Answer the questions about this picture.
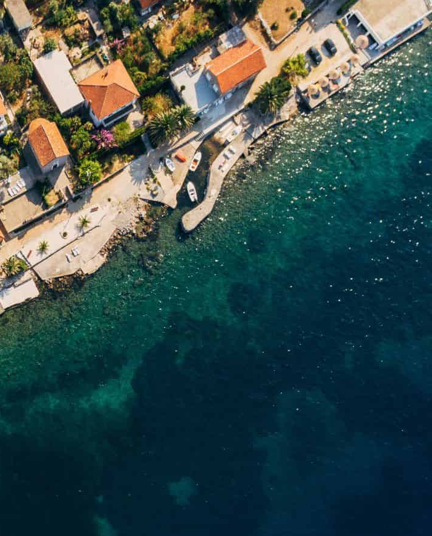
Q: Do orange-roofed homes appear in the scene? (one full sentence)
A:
Yes, I can see an orange-roofed home in this picture.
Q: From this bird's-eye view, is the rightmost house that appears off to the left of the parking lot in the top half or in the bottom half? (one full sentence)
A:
The rightmost house that appears off to the left of the parking lot sits in the top half of the picture.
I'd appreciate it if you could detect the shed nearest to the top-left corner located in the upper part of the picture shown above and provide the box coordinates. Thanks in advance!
[5,0,33,39]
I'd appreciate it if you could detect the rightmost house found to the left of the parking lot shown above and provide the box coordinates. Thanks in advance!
[203,26,266,101]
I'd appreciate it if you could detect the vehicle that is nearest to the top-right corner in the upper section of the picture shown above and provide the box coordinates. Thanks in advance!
[321,39,337,58]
